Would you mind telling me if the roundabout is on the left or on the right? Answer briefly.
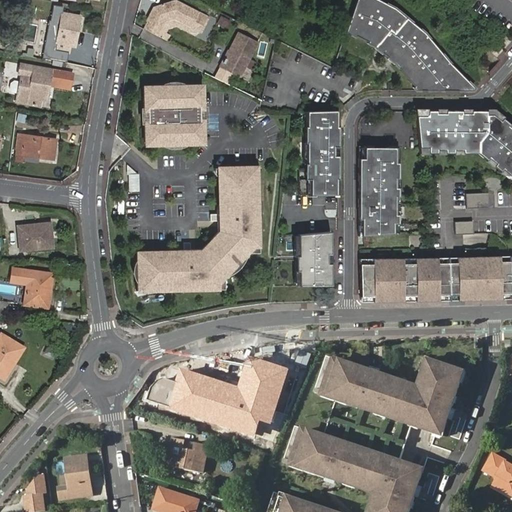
left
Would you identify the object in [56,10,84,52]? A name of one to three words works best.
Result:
house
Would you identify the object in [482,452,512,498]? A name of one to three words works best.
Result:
house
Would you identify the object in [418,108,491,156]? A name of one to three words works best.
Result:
building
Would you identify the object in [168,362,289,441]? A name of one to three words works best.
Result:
building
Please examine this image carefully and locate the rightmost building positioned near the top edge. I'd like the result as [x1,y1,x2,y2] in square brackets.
[349,0,477,90]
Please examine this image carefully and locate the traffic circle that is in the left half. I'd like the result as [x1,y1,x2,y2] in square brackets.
[76,335,140,408]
